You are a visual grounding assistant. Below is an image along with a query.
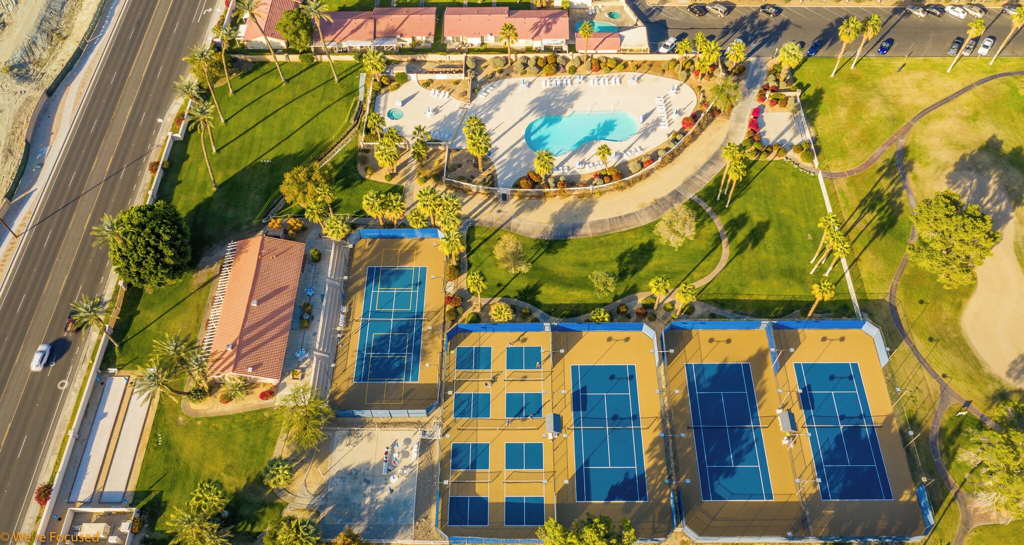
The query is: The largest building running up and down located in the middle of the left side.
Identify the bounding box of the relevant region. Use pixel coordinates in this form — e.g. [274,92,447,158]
[206,235,305,383]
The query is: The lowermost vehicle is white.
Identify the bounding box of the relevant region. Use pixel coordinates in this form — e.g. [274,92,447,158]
[30,344,50,369]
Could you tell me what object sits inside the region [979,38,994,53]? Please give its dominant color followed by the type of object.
white car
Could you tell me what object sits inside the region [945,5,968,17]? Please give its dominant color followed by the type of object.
white vehicle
